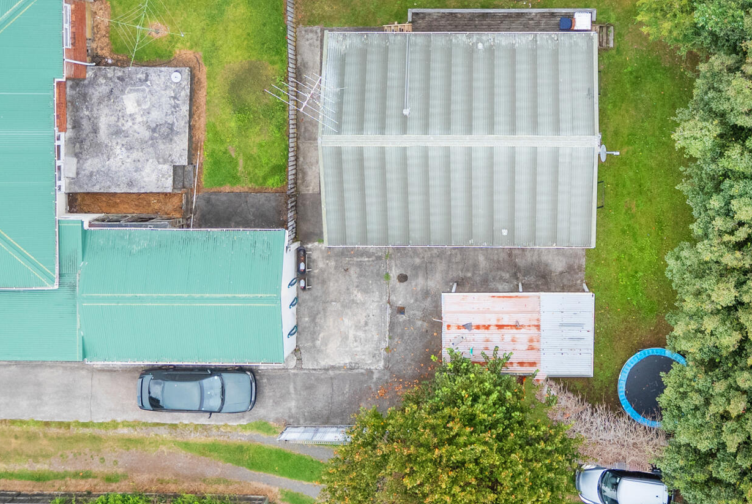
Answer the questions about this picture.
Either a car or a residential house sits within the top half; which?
residential house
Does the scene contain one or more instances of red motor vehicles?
No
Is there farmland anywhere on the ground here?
No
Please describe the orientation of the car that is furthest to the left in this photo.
horizontally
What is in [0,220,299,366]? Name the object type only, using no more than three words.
building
